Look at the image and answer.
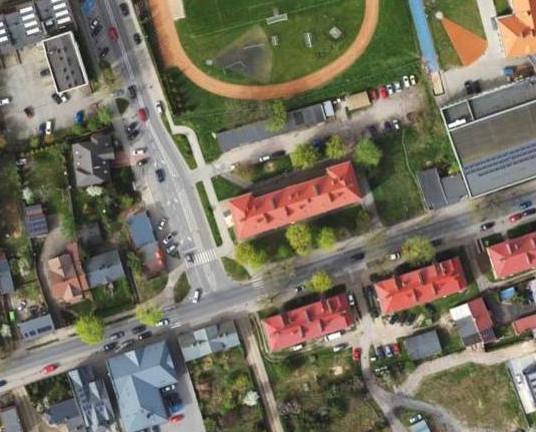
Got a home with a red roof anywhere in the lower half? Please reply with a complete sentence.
Yes, the scene does show a home with a red roof in the lower half.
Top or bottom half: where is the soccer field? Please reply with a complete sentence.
The soccer field sits in the top half of the picture.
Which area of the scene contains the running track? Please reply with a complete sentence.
The running track is in the top part of the image.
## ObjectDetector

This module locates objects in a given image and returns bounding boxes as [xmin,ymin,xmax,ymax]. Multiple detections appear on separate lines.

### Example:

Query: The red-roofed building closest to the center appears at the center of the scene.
[229,161,361,240]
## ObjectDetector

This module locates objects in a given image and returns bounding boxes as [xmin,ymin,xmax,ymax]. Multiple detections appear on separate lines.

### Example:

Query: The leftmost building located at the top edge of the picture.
[0,2,47,56]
